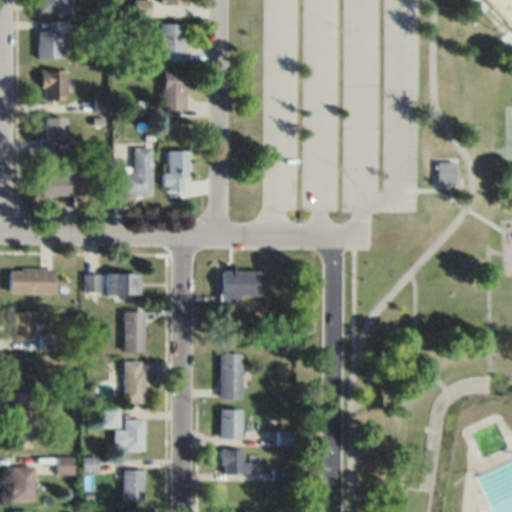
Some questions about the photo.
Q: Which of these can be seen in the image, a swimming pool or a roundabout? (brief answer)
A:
swimming pool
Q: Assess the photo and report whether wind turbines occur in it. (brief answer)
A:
No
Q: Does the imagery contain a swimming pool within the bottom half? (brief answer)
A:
Yes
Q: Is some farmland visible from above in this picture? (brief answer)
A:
No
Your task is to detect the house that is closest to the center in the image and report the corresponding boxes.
[221,270,265,302]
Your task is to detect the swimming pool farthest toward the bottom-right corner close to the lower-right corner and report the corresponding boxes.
[464,414,512,512]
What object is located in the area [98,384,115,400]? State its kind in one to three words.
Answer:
swimming pool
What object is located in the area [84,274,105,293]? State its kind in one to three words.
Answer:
building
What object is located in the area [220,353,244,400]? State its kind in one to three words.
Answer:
house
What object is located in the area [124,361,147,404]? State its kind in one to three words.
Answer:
house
